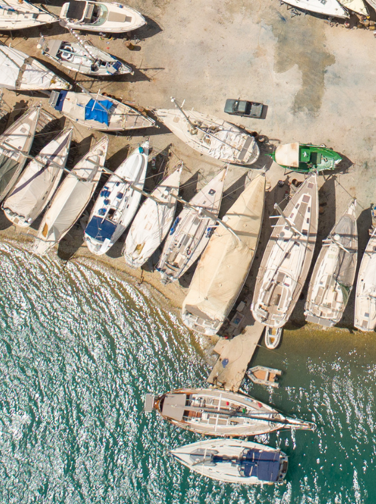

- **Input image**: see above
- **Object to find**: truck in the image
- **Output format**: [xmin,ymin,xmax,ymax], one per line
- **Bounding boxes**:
[226,96,268,120]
